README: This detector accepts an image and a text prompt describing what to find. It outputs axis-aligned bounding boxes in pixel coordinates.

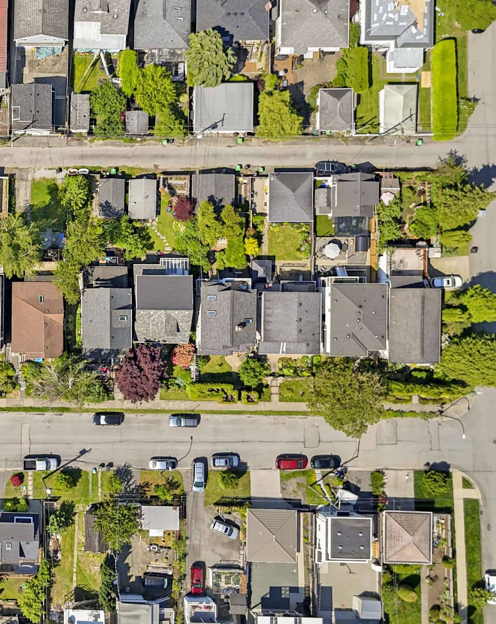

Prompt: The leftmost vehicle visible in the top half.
[314,161,345,176]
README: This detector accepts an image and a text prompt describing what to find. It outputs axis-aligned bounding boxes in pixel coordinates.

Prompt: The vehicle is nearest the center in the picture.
[167,413,200,428]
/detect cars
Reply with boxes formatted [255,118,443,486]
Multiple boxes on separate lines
[482,569,496,605]
[167,413,200,428]
[209,453,240,468]
[470,26,485,37]
[309,455,341,469]
[90,412,123,426]
[22,457,59,472]
[430,275,462,289]
[146,457,178,471]
[274,455,307,469]
[208,518,241,539]
[191,459,207,493]
[141,572,174,589]
[314,161,345,176]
